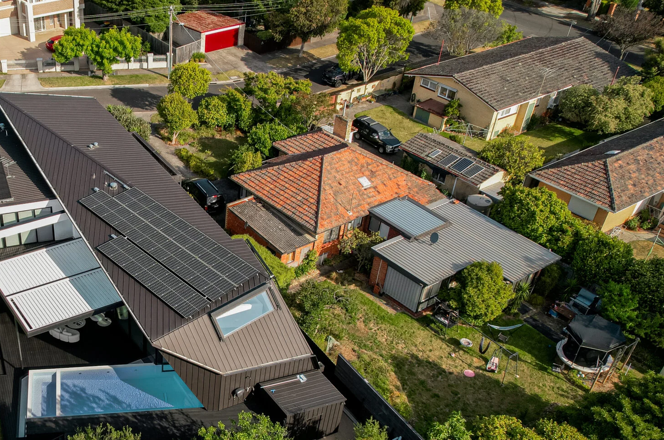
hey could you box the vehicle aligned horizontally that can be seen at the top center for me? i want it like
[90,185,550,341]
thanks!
[320,62,367,86]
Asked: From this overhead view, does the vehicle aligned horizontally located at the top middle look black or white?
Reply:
black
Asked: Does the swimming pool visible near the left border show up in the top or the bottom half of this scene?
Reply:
bottom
